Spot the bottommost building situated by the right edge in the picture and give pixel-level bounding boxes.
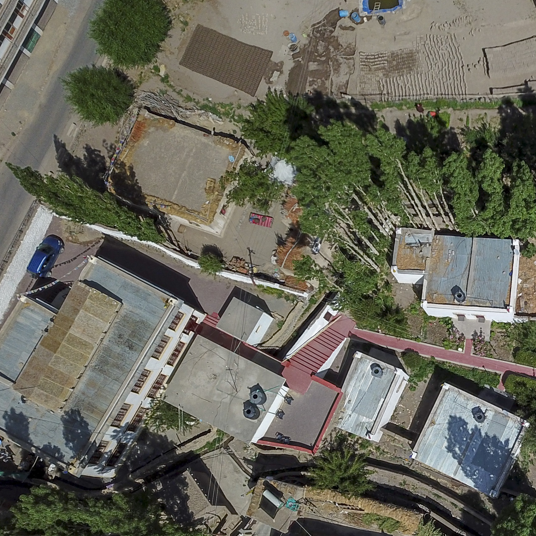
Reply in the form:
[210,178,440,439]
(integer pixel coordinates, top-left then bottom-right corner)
[413,384,529,499]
